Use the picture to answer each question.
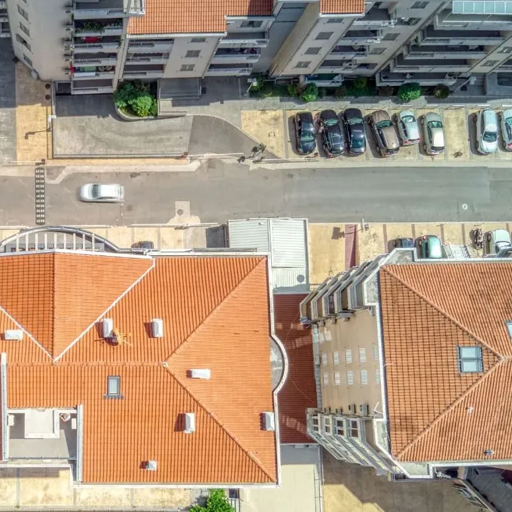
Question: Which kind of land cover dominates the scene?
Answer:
buildings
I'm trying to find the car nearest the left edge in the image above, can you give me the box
[80,182,124,203]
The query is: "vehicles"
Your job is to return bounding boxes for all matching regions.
[498,110,512,152]
[491,229,512,252]
[368,111,399,156]
[293,112,318,156]
[317,111,345,156]
[419,114,448,156]
[475,111,501,154]
[393,111,421,147]
[339,109,368,156]
[418,233,443,257]
[478,232,488,251]
[80,182,124,203]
